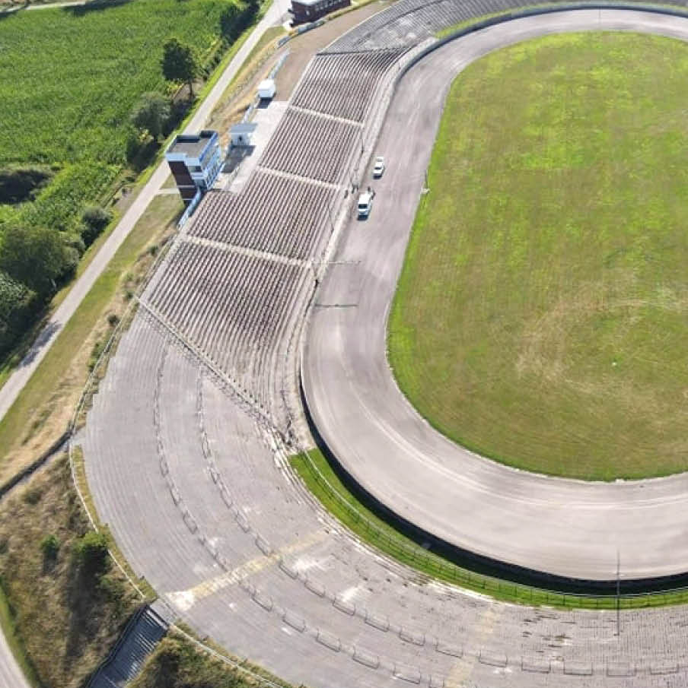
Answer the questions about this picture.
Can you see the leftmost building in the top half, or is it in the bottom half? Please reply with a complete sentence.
The top half of the photo is where the leftmost building is.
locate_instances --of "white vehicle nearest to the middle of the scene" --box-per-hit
[355,196,371,217]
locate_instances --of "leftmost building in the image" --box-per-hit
[163,126,233,198]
